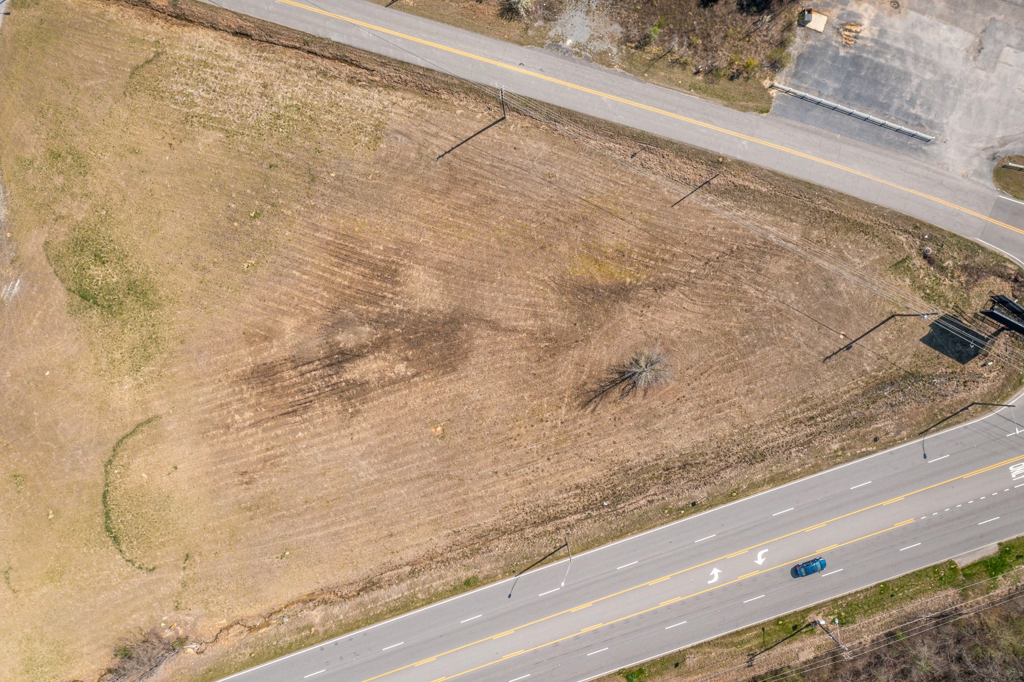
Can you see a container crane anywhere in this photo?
No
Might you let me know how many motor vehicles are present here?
1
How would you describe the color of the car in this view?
blue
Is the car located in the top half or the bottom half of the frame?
bottom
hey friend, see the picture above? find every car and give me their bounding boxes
[796,557,828,577]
